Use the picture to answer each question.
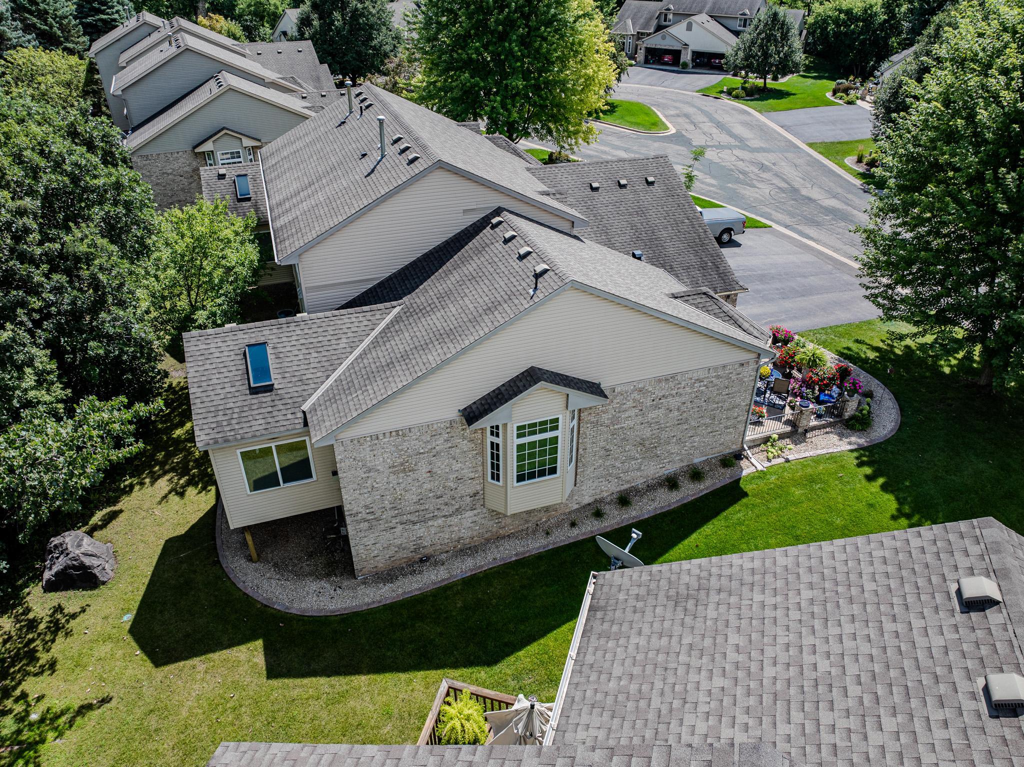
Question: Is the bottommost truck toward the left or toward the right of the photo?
right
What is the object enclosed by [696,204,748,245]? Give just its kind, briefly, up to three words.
truck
